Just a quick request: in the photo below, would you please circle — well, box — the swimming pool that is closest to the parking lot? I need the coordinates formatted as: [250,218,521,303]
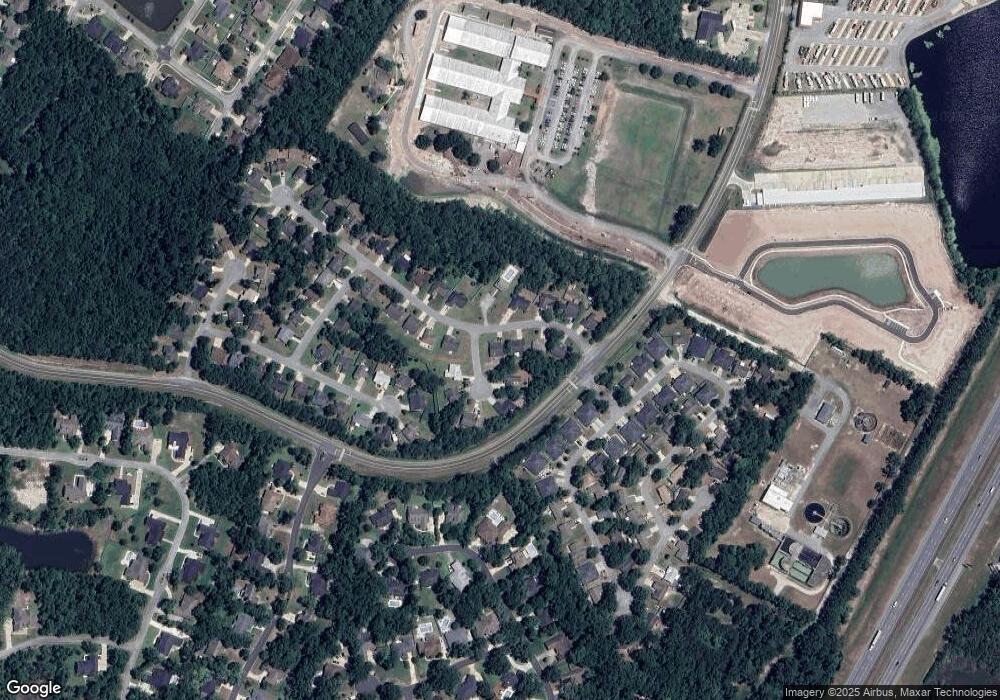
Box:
[501,264,519,282]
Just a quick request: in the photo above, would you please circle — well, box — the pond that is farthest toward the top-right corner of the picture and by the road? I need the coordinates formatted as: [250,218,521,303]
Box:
[758,254,904,307]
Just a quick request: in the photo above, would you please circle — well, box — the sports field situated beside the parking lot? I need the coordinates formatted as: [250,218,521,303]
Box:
[592,87,683,230]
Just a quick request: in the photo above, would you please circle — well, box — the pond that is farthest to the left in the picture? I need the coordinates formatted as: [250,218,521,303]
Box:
[0,528,92,570]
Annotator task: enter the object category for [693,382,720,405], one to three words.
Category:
house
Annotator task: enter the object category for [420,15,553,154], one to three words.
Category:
building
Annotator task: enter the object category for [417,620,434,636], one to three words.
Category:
swimming pool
